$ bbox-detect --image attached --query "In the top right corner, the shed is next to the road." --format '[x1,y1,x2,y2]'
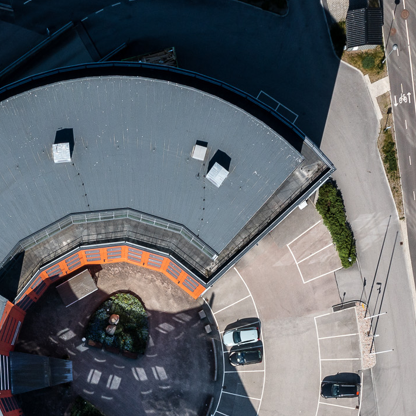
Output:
[343,7,382,55]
